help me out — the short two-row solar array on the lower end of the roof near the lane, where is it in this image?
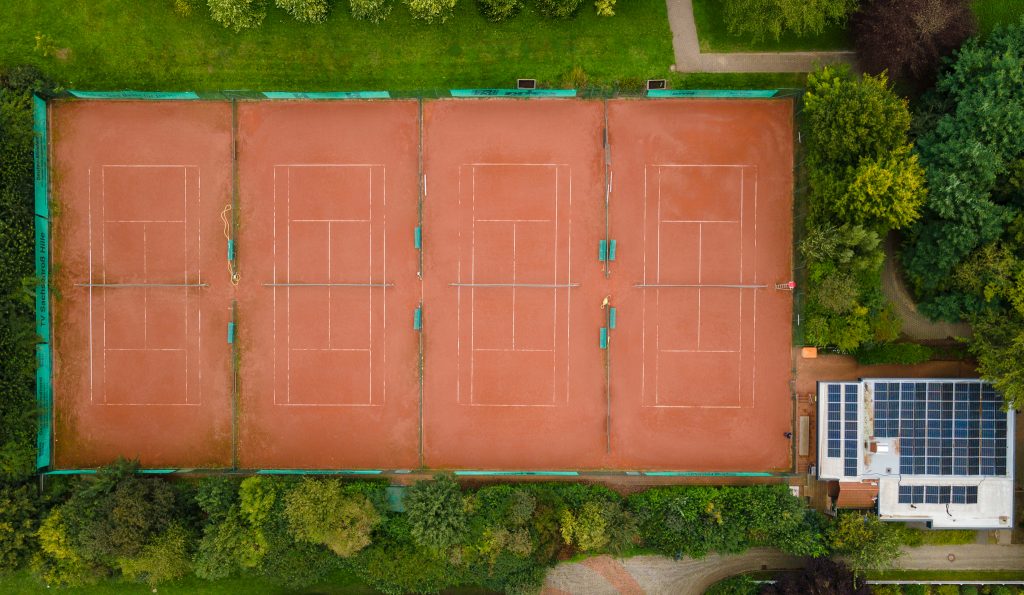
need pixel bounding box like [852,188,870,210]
[900,486,978,504]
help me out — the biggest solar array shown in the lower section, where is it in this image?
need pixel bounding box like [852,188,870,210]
[875,383,1006,475]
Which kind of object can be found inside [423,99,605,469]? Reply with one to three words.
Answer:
tennis court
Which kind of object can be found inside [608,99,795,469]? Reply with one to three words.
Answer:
tennis court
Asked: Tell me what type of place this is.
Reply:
sports ground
